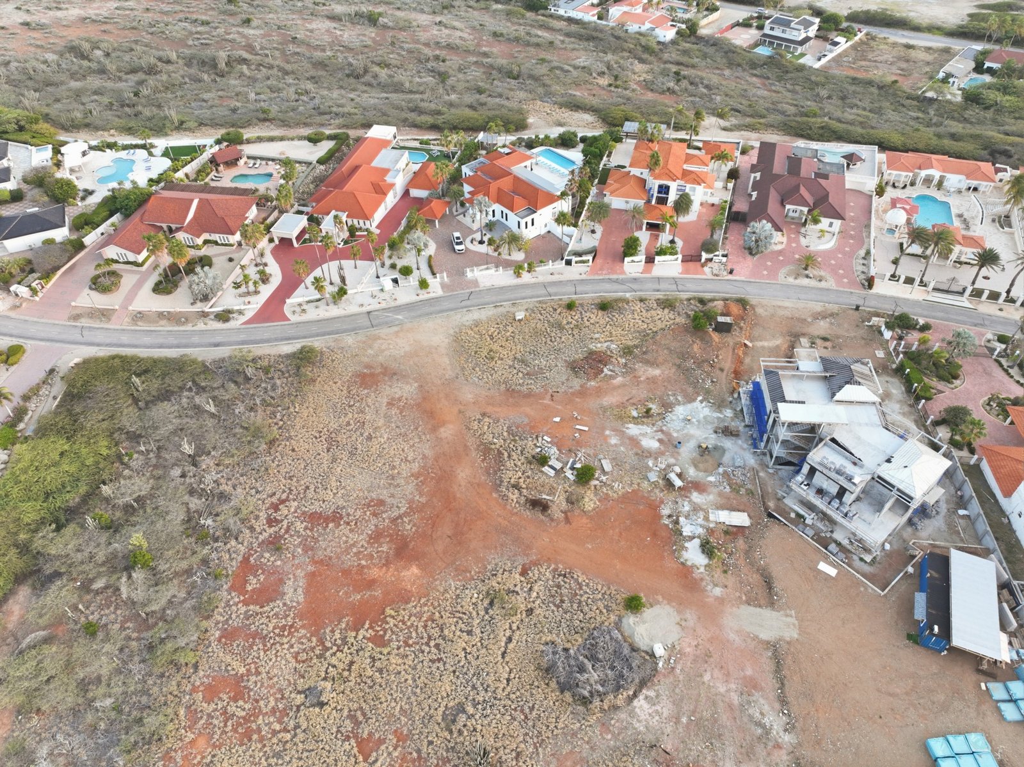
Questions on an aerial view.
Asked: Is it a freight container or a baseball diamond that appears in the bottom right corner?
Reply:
freight container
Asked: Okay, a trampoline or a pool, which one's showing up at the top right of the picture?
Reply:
pool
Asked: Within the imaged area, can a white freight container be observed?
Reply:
No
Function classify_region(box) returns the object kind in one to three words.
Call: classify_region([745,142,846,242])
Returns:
house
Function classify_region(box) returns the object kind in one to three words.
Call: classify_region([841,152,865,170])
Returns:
gazebo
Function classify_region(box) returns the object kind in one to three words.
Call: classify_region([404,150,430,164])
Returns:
swimming pool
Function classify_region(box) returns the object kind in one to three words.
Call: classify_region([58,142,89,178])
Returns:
building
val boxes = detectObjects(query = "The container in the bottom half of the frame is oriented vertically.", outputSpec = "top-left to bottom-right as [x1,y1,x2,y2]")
[913,551,951,650]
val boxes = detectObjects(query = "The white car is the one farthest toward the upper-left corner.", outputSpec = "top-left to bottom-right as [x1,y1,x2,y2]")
[451,231,465,250]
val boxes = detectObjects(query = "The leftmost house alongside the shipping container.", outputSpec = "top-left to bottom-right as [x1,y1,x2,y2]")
[753,348,954,563]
